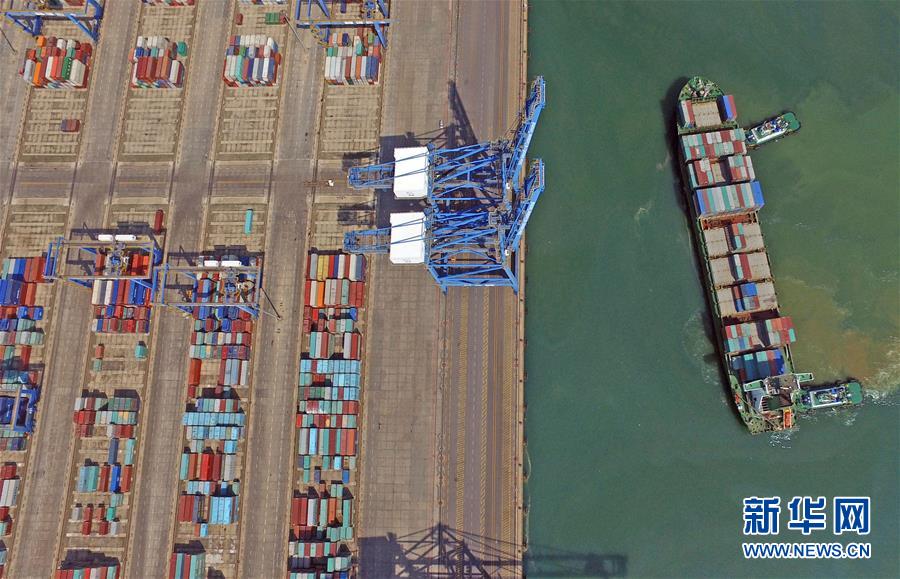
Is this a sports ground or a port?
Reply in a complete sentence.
The area seen from above is a port.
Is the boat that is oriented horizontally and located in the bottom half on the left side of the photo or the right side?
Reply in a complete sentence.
You can find the boat that is oriented horizontally and located in the bottom half on the right side of the picture.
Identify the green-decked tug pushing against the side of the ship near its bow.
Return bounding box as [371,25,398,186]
[750,113,802,150]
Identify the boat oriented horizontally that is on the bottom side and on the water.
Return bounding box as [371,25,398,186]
[800,381,864,410]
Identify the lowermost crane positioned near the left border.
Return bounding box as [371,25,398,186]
[0,381,43,440]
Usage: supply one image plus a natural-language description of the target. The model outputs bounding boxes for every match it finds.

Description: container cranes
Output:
[0,0,106,43]
[295,0,397,51]
[45,233,170,293]
[342,165,549,295]
[149,260,269,318]
[0,381,43,440]
[346,81,549,229]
